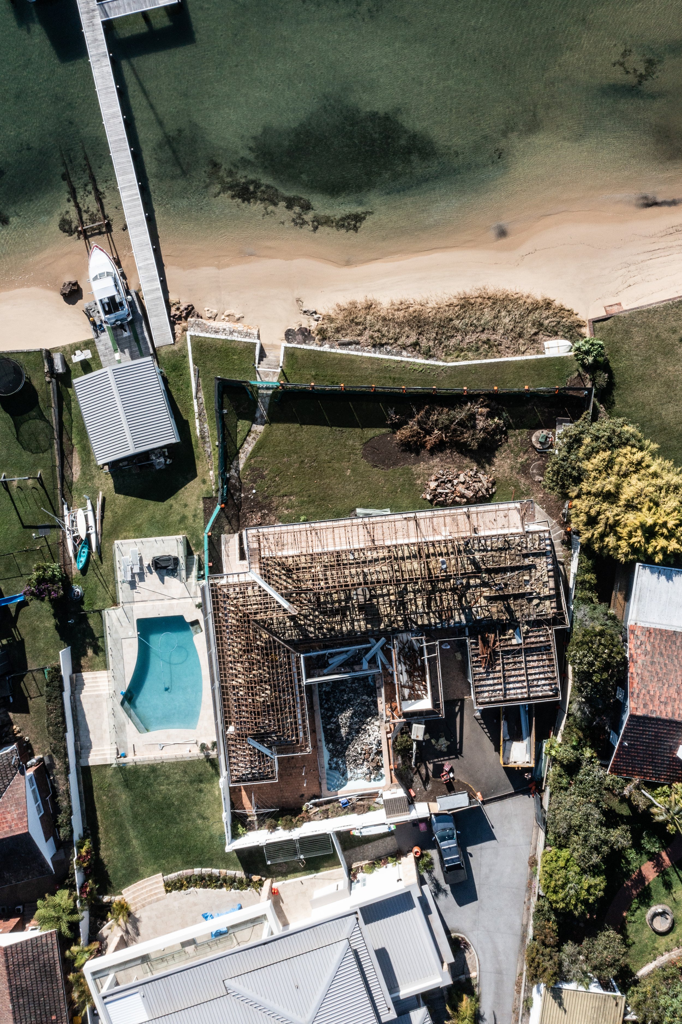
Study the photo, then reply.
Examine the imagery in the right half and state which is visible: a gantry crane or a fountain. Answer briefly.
fountain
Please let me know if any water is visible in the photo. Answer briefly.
Yes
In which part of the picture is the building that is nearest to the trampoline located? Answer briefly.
left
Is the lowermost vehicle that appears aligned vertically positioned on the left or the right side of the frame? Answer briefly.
right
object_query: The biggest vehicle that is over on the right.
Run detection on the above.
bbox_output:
[432,811,472,887]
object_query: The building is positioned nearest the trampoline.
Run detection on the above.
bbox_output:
[72,355,179,466]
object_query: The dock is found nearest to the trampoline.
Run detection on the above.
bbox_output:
[74,0,174,347]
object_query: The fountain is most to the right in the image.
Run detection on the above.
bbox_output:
[647,905,673,932]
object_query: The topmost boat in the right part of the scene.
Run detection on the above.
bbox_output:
[542,339,573,355]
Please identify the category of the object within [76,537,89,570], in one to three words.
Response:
boat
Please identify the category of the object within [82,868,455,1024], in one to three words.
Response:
house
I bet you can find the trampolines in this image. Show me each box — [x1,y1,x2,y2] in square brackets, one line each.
[0,352,28,400]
